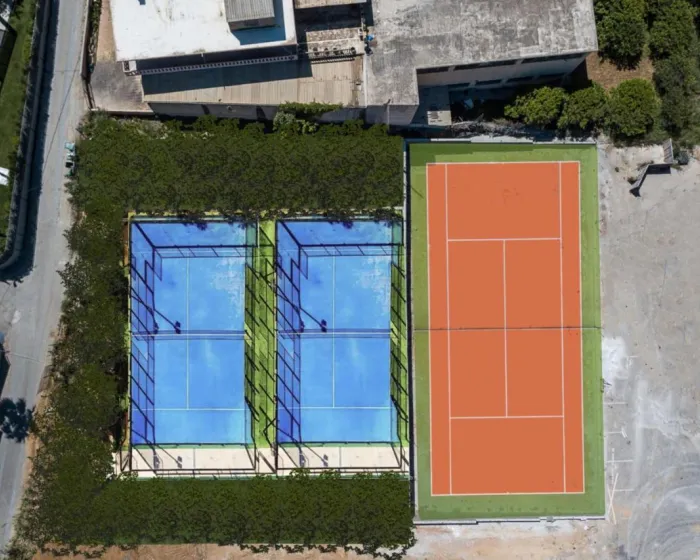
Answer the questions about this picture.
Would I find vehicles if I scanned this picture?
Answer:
No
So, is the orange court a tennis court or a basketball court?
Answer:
tennis court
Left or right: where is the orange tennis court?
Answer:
right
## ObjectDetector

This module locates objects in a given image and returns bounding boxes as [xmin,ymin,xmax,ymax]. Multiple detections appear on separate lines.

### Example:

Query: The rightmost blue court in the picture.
[263,213,409,476]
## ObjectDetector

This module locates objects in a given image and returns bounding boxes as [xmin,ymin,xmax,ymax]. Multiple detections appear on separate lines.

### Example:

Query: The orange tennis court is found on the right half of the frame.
[410,142,605,519]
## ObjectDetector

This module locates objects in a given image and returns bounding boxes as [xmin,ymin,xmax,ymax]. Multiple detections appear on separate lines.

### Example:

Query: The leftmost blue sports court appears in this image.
[118,213,263,476]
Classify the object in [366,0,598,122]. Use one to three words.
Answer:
building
